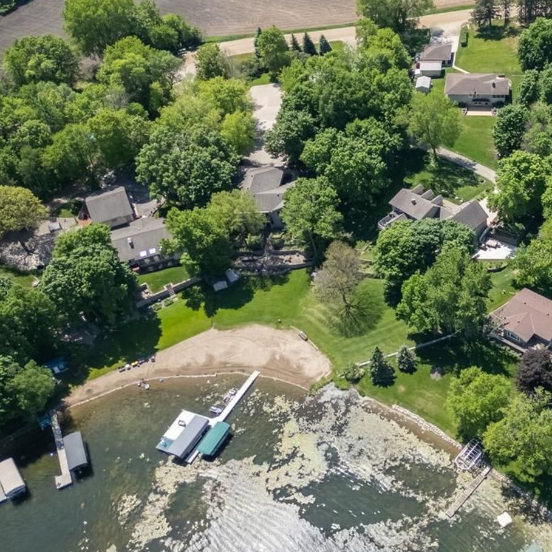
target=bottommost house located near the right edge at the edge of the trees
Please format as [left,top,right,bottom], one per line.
[485,288,552,359]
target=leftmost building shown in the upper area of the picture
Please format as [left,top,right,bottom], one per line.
[74,186,135,235]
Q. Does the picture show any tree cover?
Yes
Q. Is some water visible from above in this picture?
Yes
